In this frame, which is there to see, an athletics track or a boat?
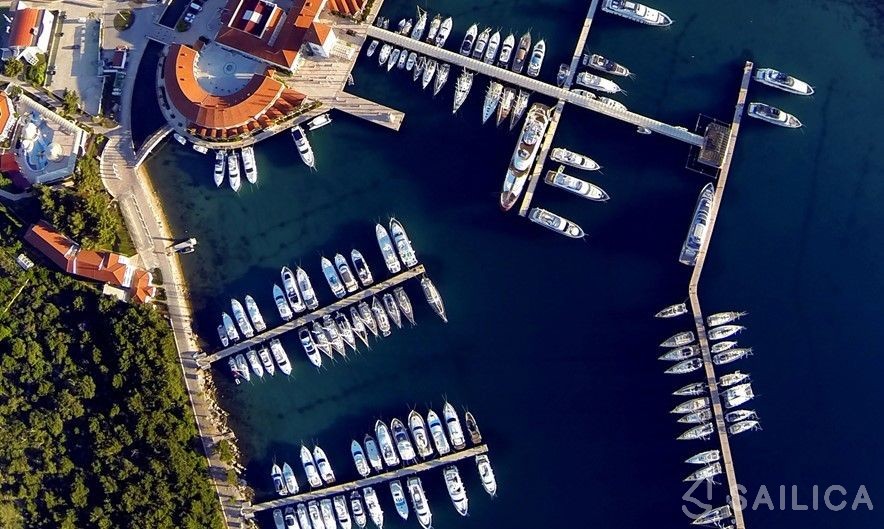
boat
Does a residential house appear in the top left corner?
Yes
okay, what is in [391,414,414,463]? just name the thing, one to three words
boat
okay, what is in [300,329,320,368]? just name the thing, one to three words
boat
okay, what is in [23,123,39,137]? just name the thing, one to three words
umbrella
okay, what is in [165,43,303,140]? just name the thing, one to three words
building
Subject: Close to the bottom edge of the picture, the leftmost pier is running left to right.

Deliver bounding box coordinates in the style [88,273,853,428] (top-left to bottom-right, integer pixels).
[254,444,488,513]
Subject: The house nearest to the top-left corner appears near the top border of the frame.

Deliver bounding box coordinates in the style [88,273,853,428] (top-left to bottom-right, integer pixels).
[0,3,54,67]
